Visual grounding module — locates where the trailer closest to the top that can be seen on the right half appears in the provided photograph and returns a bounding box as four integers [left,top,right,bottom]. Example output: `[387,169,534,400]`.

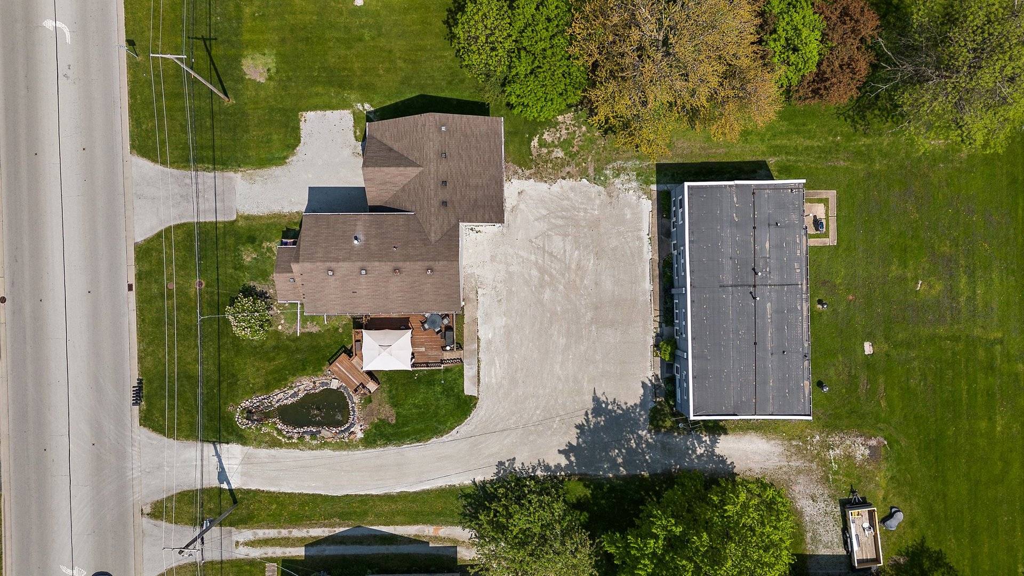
[840,486,883,569]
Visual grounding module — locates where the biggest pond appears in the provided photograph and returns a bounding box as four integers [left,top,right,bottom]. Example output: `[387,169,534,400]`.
[237,372,363,441]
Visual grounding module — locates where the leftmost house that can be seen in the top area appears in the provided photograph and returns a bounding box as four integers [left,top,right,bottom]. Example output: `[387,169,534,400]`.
[273,112,506,336]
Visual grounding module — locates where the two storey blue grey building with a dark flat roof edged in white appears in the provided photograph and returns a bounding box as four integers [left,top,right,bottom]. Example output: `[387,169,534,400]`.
[672,179,813,419]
